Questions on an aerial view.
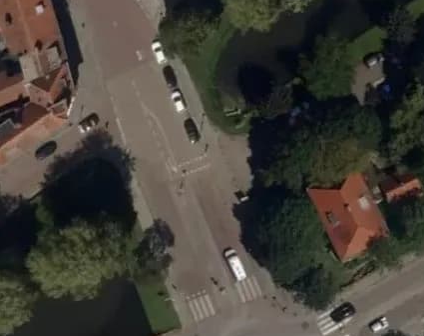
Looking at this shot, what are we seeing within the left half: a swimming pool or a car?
car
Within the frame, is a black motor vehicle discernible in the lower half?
Yes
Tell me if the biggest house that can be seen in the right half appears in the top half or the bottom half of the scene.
bottom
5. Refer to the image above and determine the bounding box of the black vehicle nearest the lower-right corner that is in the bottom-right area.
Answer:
[328,301,357,323]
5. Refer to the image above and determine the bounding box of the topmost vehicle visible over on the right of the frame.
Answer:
[360,52,384,69]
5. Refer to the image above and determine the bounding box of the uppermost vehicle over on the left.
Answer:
[151,40,168,64]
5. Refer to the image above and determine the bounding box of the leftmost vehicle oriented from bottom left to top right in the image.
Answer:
[33,140,58,160]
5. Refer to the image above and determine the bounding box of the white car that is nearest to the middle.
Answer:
[169,88,185,114]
